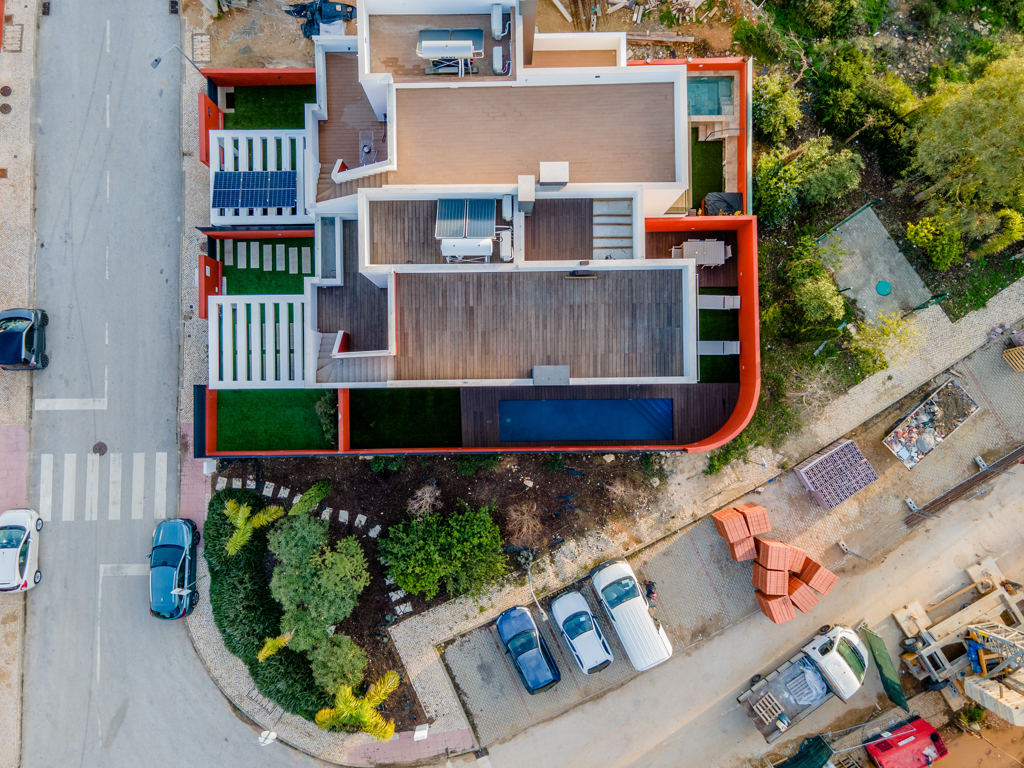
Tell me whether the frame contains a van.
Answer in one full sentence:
Yes, looking at the shot, I can spot a van.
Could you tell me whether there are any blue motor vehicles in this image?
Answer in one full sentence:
Yes, the image includes a blue motor vehicle.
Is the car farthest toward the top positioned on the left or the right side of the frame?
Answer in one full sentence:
The car farthest toward the top appears in the left half of the scene.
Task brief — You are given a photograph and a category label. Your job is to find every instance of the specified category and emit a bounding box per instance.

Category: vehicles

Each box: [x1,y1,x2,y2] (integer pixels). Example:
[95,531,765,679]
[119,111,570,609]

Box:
[735,614,872,741]
[587,548,685,685]
[0,306,57,371]
[136,515,197,621]
[549,584,619,683]
[0,505,47,595]
[496,600,567,701]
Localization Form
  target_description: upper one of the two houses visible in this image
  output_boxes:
[209,0,688,227]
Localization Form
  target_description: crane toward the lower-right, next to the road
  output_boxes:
[896,570,1024,700]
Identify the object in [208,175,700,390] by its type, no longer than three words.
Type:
house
